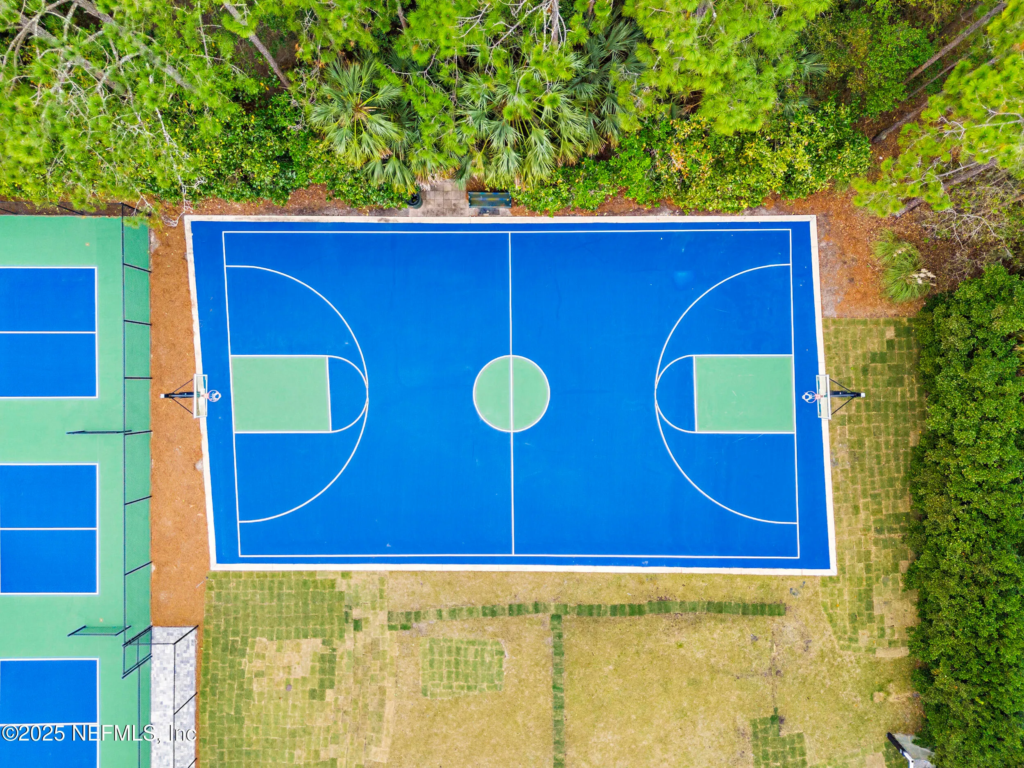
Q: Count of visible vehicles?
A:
none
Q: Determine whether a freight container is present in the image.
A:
No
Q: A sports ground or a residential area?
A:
sports ground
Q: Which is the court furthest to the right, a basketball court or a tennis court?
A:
basketball court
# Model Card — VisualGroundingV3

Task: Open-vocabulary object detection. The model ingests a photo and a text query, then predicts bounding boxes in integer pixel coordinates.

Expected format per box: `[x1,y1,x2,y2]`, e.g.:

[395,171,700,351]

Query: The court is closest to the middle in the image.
[184,215,837,576]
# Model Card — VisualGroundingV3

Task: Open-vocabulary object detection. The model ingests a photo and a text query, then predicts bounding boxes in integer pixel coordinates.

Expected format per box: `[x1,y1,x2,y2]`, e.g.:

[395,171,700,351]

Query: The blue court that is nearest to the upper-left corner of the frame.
[0,266,98,398]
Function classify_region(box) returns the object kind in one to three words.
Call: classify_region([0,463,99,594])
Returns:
sports court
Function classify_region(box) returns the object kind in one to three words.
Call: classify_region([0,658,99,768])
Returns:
sports court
